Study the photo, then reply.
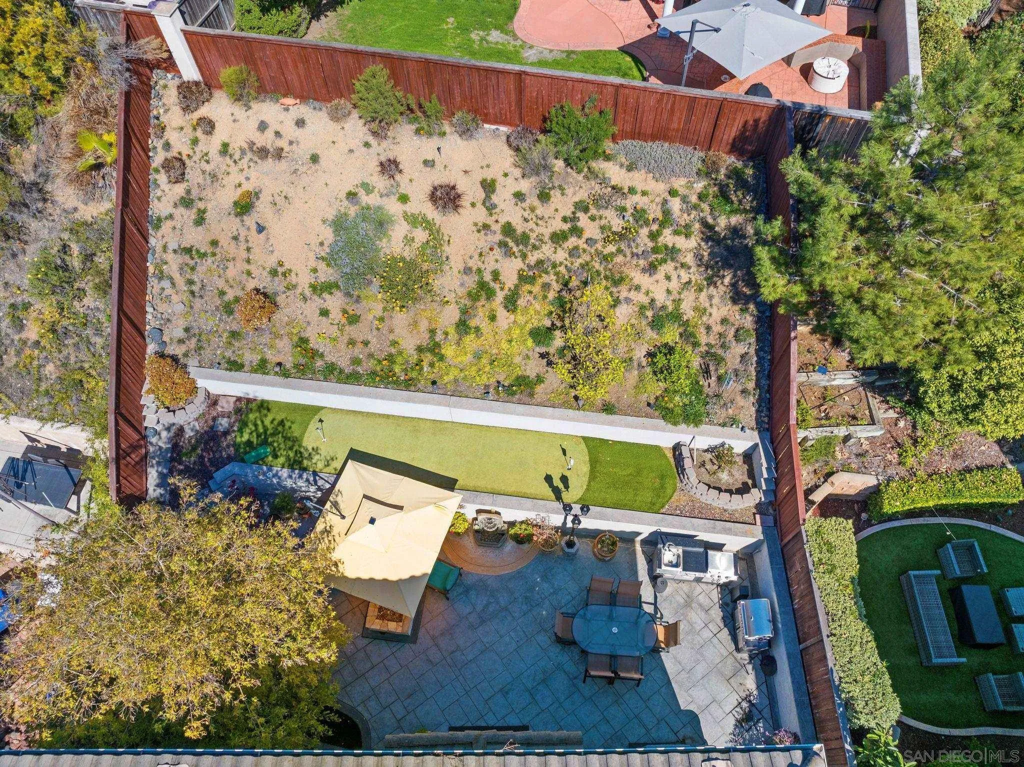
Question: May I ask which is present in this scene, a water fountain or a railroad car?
water fountain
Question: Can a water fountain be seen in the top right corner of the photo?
No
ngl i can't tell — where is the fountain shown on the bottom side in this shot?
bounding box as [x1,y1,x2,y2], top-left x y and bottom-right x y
[471,507,513,550]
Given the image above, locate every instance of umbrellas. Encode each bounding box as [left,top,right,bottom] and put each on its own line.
[293,459,462,618]
[654,0,833,139]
